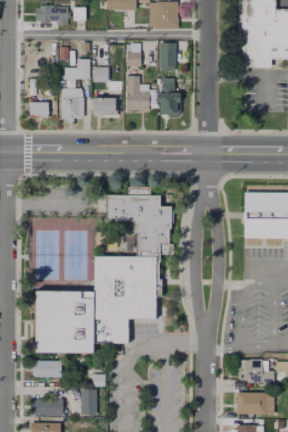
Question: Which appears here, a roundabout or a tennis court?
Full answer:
I can see a tennis court in this picture.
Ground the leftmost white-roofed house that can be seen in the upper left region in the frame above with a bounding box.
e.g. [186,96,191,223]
[30,102,50,118]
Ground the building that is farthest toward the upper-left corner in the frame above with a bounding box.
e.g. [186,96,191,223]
[36,6,70,26]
